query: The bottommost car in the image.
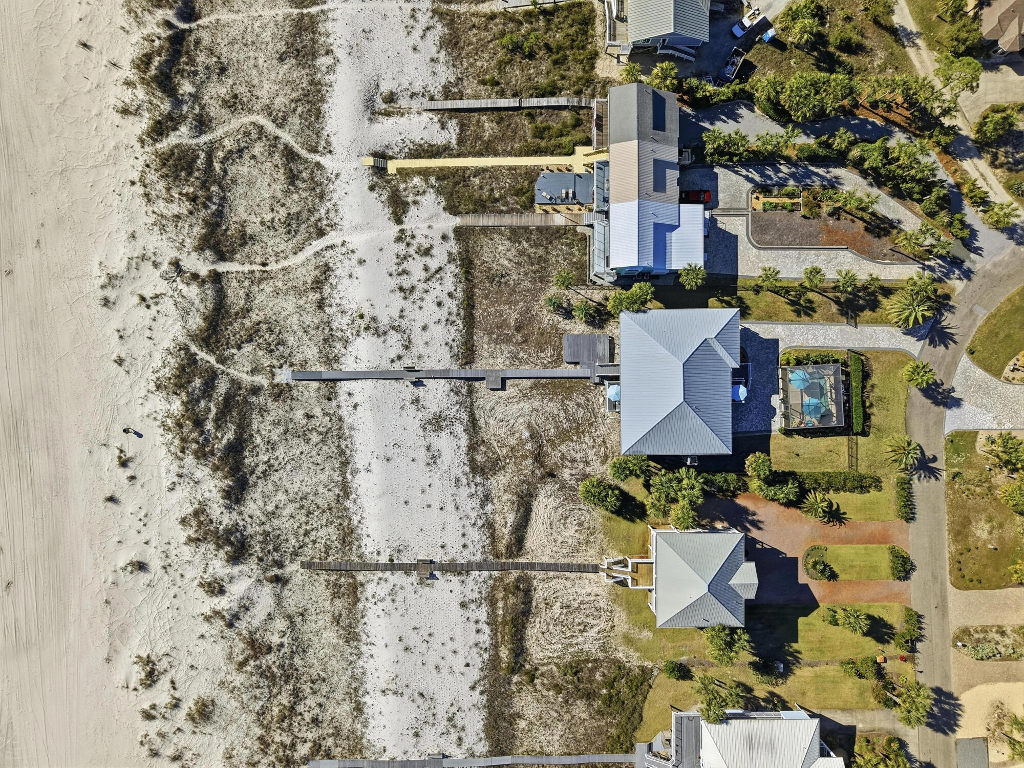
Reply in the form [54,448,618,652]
[679,188,711,204]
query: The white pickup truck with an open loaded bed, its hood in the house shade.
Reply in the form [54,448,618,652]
[731,3,769,41]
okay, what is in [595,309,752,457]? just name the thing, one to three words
house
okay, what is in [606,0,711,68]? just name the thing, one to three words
house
